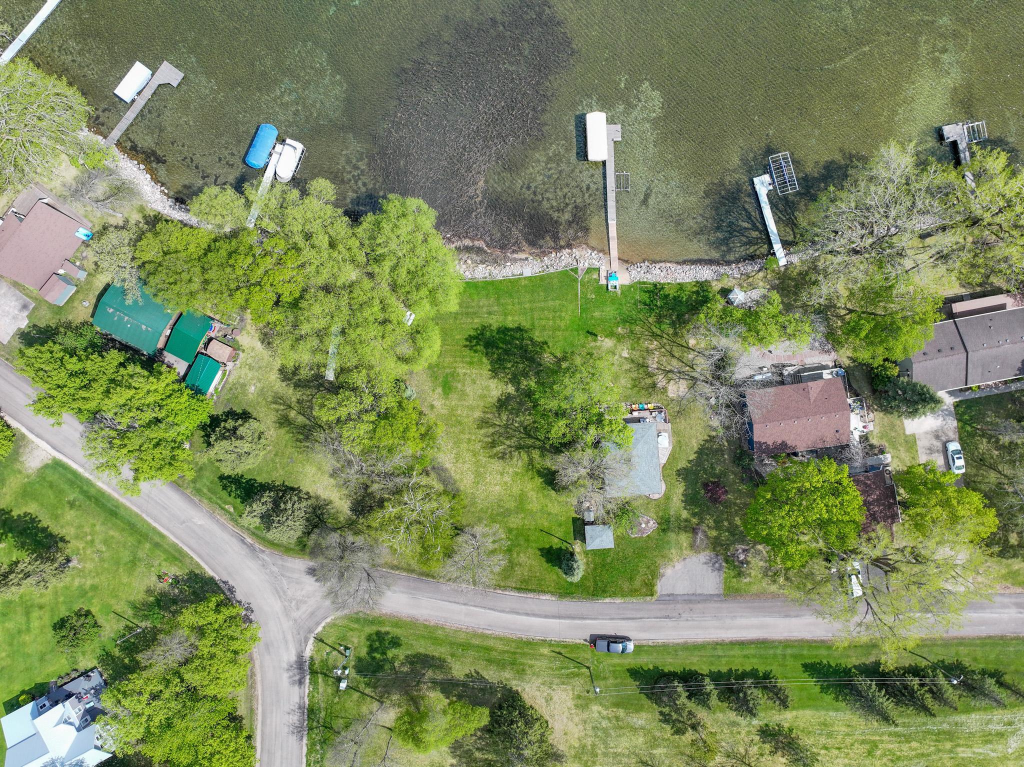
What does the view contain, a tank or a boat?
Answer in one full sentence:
Looking from above, you can make out a boat.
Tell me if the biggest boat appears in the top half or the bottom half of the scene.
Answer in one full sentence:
The biggest boat sits in the top half of the picture.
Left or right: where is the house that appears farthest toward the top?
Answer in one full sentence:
The house that appears farthest toward the top appears in the left half of the scene.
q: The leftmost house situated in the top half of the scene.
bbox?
[0,198,93,304]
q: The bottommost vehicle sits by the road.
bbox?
[596,639,636,657]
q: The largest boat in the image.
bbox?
[278,140,308,183]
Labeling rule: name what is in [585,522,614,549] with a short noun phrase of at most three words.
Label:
building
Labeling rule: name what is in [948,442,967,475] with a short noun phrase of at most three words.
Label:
car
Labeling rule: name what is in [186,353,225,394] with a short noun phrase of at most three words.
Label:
shed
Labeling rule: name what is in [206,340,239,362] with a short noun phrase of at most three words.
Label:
shed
